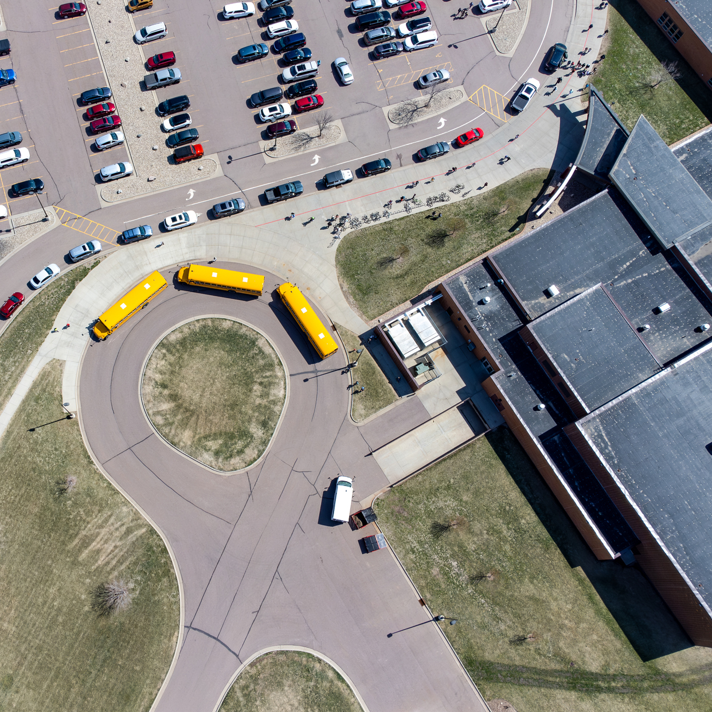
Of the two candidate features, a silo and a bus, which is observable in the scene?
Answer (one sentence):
Visible in the photo is a bus.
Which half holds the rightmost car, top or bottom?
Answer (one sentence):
The top half of the photo is where the rightmost car is.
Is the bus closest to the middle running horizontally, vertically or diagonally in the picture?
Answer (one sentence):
What the image shows is the bus closest to the middle lying diagonally.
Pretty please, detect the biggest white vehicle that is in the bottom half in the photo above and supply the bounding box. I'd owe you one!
[330,476,357,525]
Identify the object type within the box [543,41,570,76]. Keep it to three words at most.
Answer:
car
